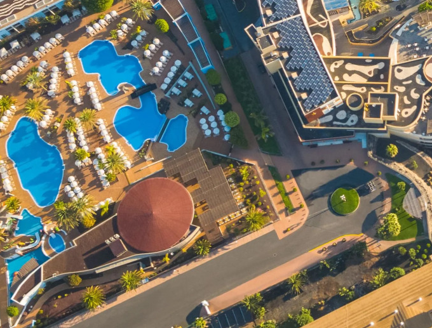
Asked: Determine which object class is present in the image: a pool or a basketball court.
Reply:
pool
